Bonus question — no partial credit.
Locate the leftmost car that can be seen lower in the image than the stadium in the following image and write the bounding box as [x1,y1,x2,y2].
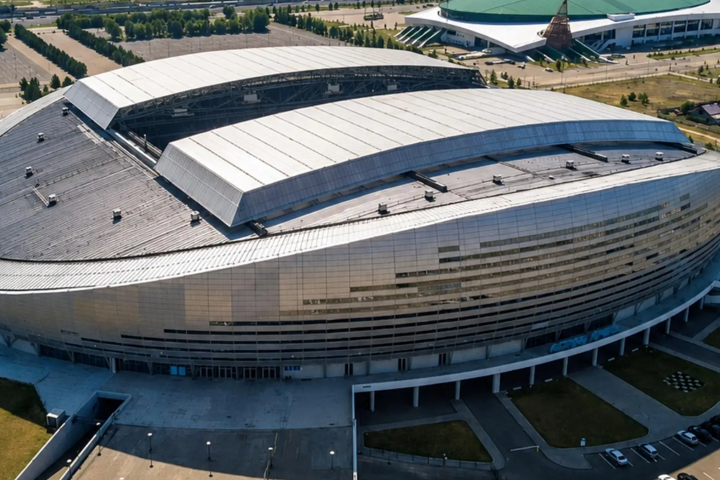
[606,448,629,465]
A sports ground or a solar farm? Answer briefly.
sports ground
